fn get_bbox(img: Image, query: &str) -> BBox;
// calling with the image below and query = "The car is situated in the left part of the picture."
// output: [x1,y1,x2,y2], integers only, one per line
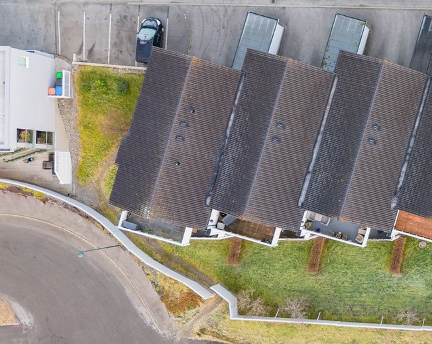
[136,18,165,64]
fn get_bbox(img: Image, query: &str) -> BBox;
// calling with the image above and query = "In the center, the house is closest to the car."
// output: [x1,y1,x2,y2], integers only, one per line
[108,46,248,247]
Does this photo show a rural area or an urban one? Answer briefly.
urban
